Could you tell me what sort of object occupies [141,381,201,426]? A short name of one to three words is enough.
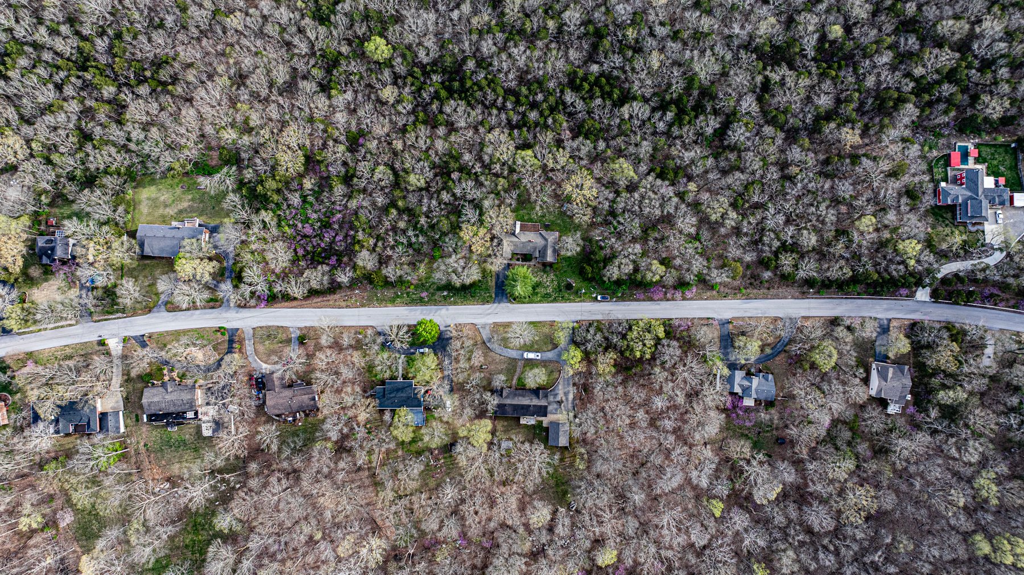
house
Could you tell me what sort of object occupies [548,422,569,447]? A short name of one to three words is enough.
building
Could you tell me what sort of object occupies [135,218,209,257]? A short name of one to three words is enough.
house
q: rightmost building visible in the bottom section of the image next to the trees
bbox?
[870,363,912,414]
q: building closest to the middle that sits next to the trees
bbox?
[501,222,558,262]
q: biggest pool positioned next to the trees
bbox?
[956,142,975,168]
